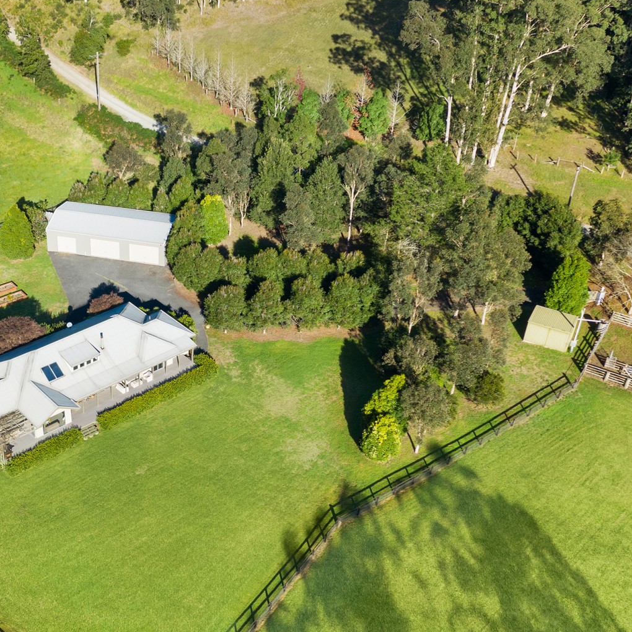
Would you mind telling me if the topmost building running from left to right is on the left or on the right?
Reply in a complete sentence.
The topmost building running from left to right appears in the left half of the scene.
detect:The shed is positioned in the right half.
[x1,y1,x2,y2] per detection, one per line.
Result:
[523,307,575,353]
